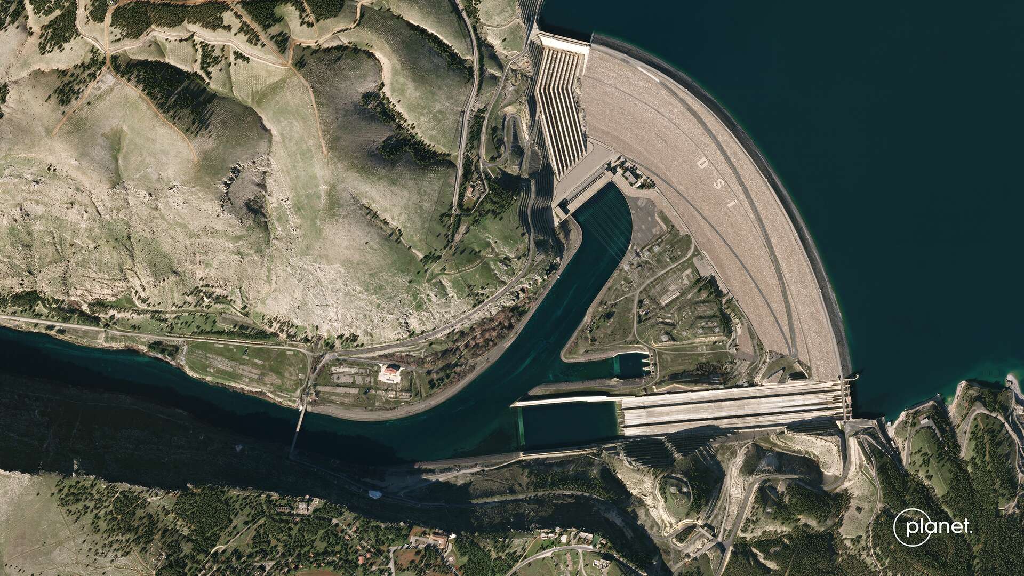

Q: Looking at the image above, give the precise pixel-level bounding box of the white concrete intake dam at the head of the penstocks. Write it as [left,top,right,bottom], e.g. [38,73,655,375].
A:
[538,31,594,76]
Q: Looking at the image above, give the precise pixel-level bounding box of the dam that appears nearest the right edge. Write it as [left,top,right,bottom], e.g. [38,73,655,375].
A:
[581,31,855,380]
